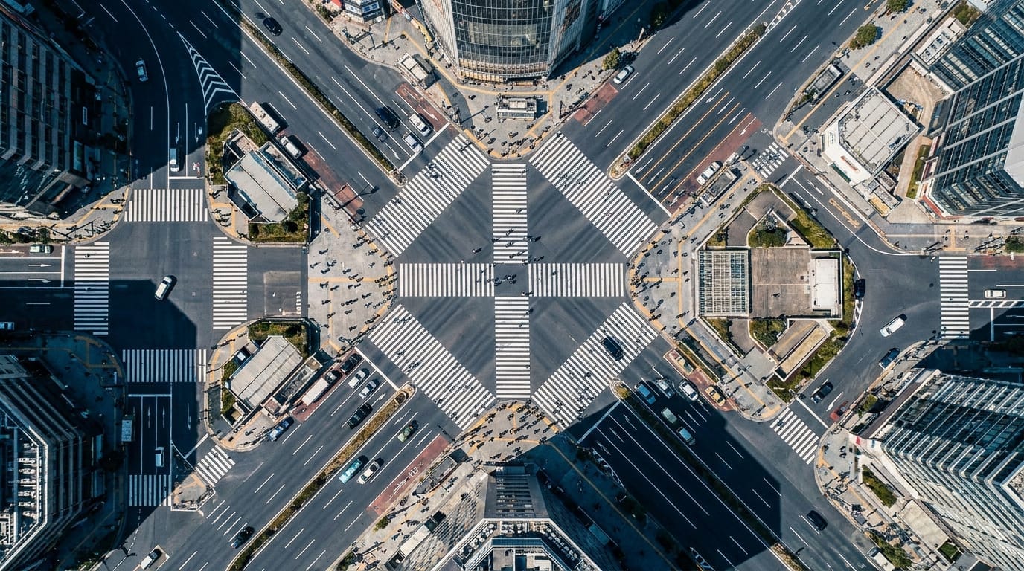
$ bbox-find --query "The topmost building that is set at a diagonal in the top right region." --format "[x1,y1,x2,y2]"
[900,17,966,76]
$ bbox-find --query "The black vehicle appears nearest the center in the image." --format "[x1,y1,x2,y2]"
[599,335,625,362]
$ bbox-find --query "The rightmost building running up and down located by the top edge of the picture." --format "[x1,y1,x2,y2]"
[927,0,1024,219]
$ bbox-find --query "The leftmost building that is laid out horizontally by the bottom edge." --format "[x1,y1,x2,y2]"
[391,467,617,571]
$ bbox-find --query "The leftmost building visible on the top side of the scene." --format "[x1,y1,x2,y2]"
[0,0,91,218]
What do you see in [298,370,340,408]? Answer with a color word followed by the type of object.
white truck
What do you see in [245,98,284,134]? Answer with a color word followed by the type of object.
white bus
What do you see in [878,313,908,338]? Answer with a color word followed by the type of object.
white vehicle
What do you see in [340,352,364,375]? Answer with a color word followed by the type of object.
black car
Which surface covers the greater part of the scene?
paved ground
